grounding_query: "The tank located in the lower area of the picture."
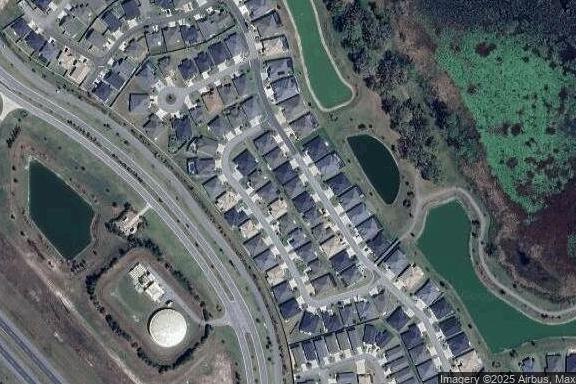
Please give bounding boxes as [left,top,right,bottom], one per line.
[149,309,187,347]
